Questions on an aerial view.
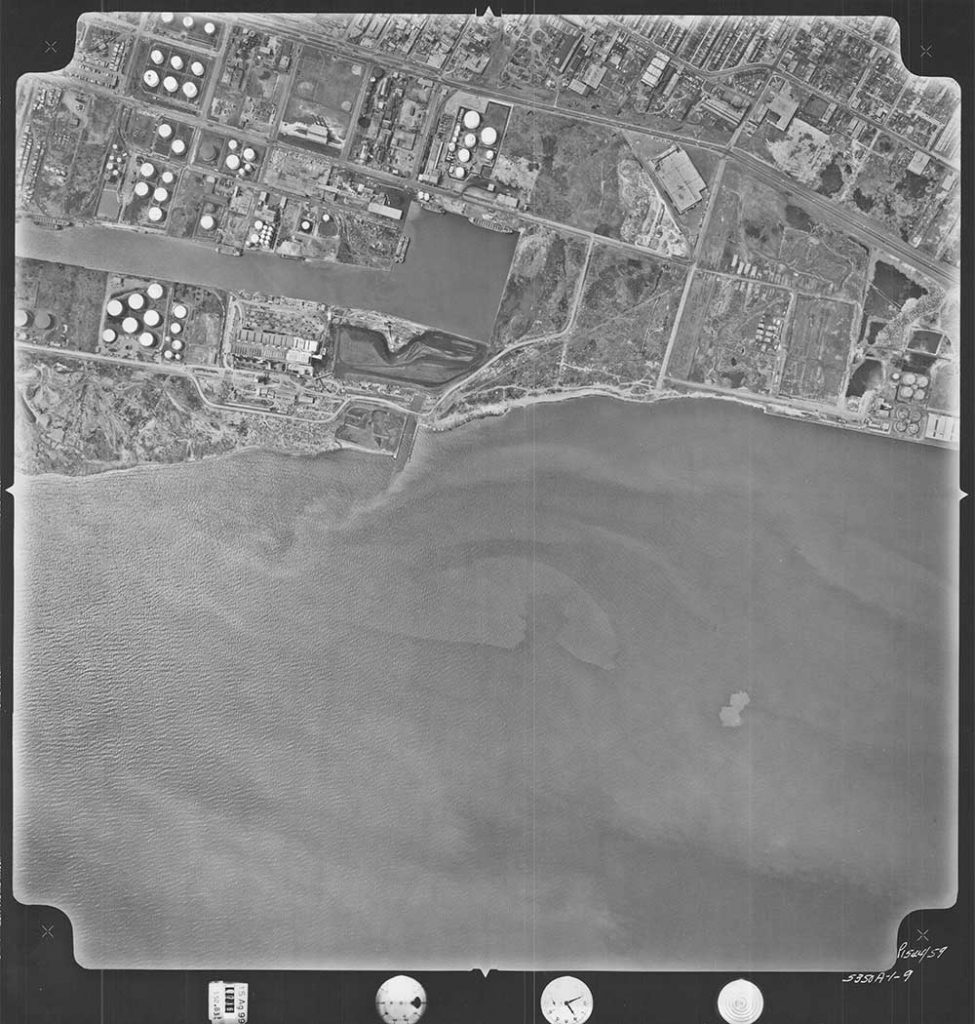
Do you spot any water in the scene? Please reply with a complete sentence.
Yes, the picture does contain water.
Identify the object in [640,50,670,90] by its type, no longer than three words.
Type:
building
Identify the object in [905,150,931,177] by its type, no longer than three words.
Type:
building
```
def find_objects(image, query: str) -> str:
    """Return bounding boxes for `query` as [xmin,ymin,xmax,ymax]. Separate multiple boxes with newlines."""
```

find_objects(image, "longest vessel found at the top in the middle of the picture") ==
[469,219,511,233]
